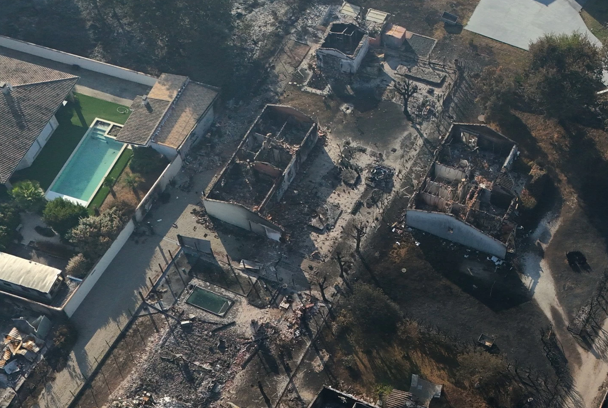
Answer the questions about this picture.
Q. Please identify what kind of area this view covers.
residential area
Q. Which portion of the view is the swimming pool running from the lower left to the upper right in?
left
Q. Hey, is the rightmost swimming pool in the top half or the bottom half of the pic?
bottom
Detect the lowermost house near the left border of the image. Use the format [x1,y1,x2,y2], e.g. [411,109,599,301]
[0,254,70,305]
